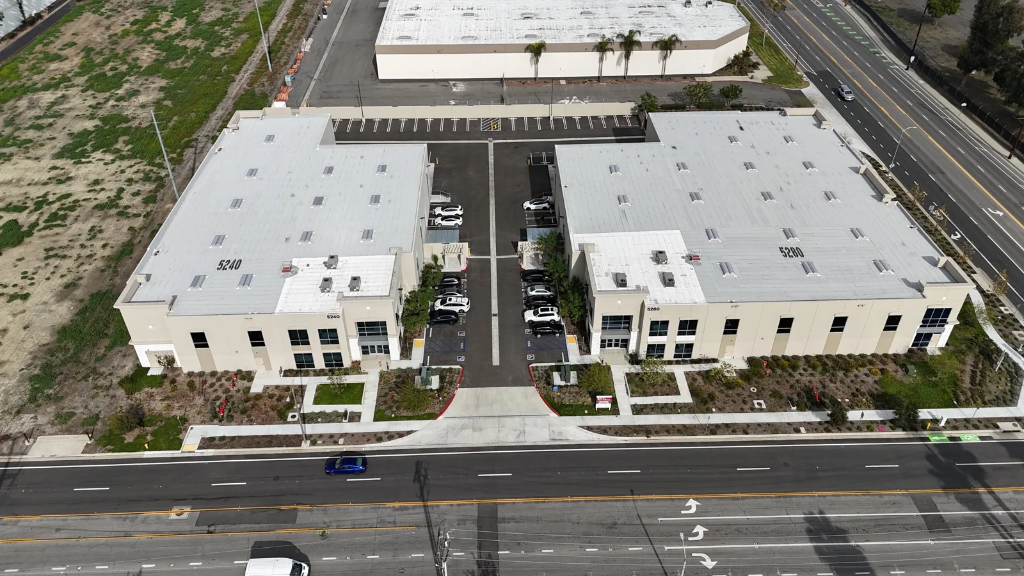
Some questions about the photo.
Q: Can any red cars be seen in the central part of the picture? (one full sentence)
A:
No, I see no red car in the central part of the picture.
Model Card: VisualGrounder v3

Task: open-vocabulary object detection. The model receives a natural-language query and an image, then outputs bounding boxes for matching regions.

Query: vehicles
[525,285,559,296]
[838,87,853,101]
[435,294,469,311]
[323,456,369,477]
[524,292,558,308]
[242,556,312,576]
[426,308,460,325]
[434,203,462,217]
[431,271,464,288]
[523,197,551,211]
[519,268,553,283]
[433,214,463,227]
[524,305,559,322]
[528,320,564,337]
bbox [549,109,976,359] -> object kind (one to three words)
building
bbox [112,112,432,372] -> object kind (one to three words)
building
